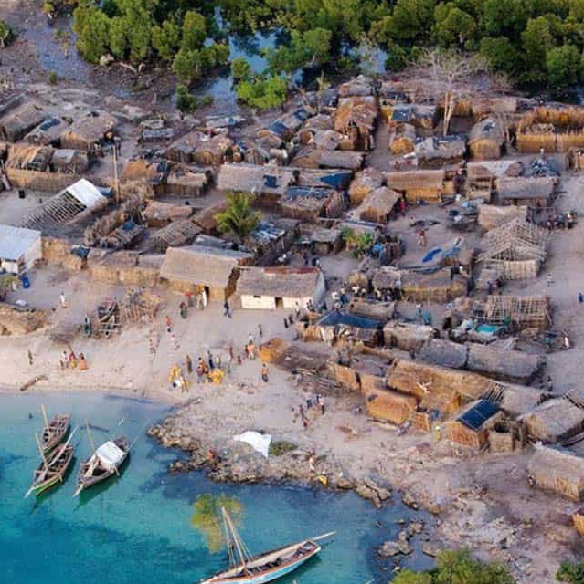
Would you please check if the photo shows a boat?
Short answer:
Yes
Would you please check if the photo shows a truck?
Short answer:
No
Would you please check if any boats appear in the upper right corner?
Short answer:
No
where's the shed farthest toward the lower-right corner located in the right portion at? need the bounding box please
[525,424,584,507]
